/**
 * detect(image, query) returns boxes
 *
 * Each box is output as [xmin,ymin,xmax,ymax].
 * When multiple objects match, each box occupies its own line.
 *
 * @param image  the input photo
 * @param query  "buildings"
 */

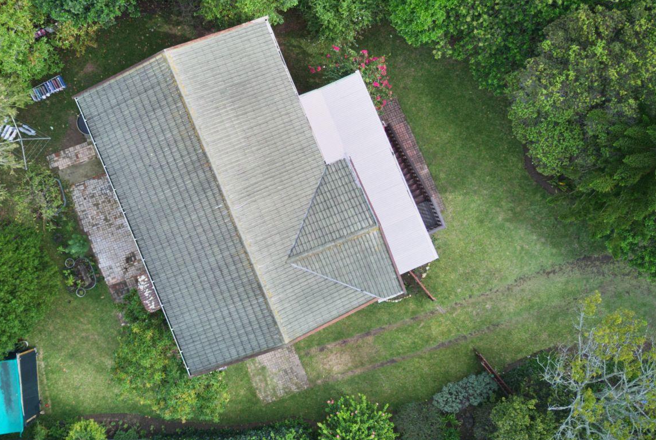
[0,343,41,437]
[71,16,440,378]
